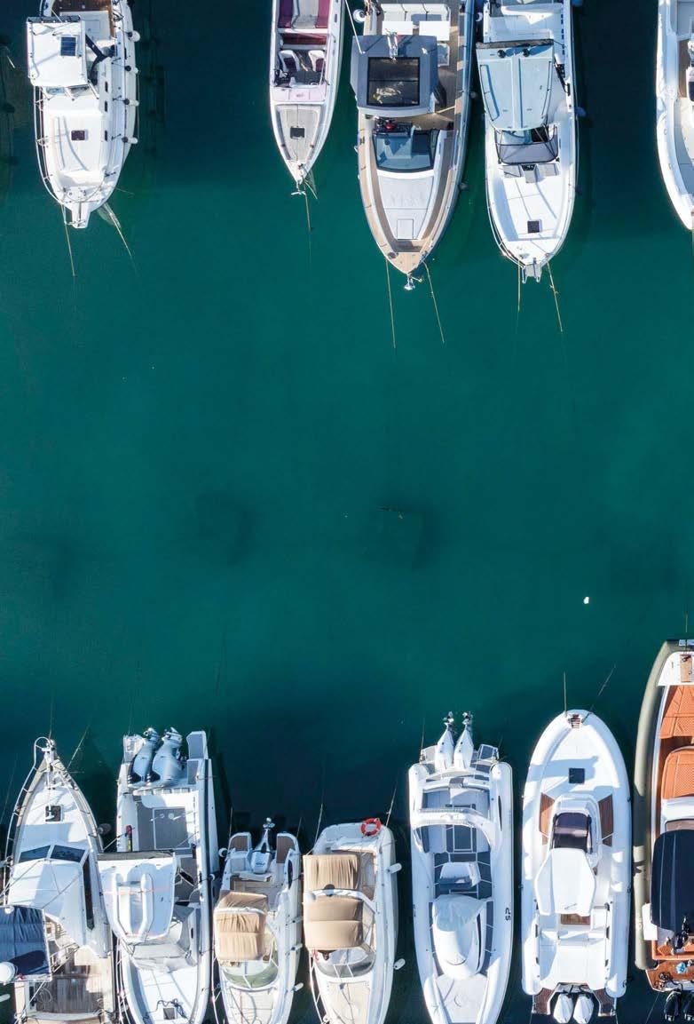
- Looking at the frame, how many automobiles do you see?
0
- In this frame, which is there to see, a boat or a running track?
boat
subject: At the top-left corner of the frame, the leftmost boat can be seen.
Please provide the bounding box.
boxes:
[28,0,138,233]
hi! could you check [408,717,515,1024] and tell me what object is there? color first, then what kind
white boat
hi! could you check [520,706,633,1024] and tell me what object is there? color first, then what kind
white boat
